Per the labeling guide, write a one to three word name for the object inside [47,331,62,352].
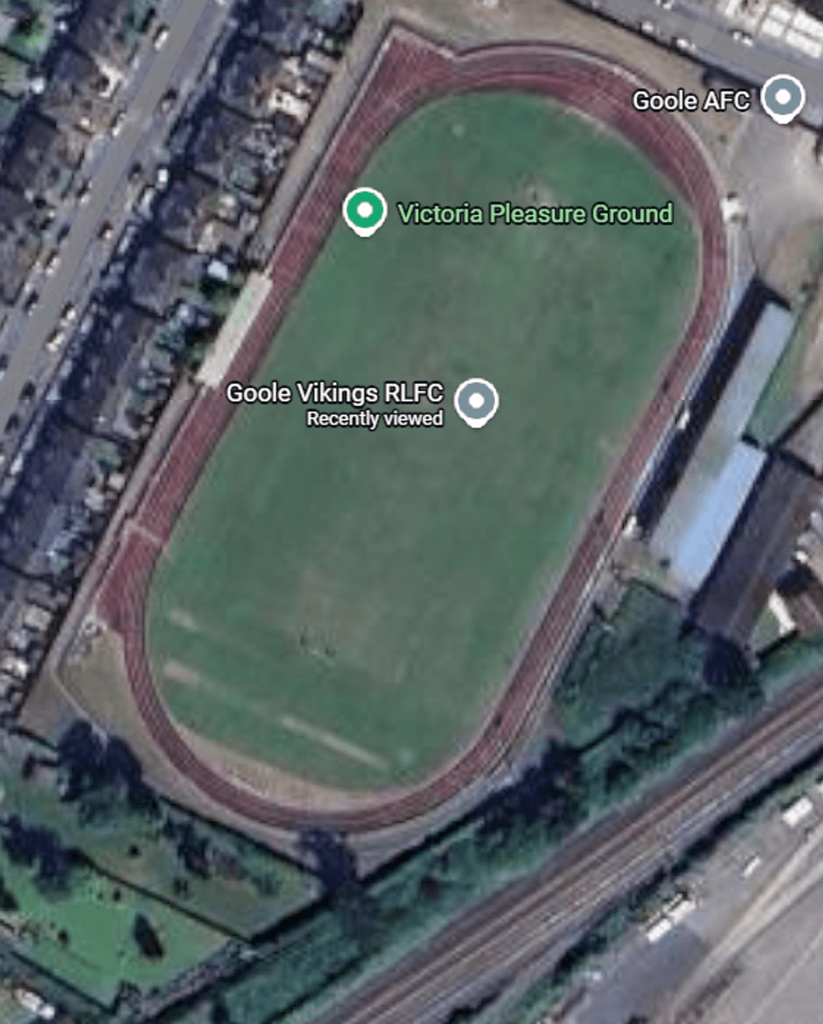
car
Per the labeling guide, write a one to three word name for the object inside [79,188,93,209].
car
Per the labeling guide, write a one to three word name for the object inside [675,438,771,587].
building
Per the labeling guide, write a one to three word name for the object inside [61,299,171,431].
house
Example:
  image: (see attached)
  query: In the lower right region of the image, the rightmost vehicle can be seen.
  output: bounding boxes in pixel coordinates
[744,856,761,876]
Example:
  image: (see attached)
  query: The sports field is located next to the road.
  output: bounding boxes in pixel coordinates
[145,89,704,814]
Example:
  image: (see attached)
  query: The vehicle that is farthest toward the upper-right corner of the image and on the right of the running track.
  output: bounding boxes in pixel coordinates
[733,31,753,46]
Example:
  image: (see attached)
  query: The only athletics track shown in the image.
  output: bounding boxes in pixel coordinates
[94,31,727,832]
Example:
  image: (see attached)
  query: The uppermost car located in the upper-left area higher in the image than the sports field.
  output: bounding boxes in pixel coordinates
[153,29,168,50]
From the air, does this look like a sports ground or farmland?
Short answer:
sports ground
